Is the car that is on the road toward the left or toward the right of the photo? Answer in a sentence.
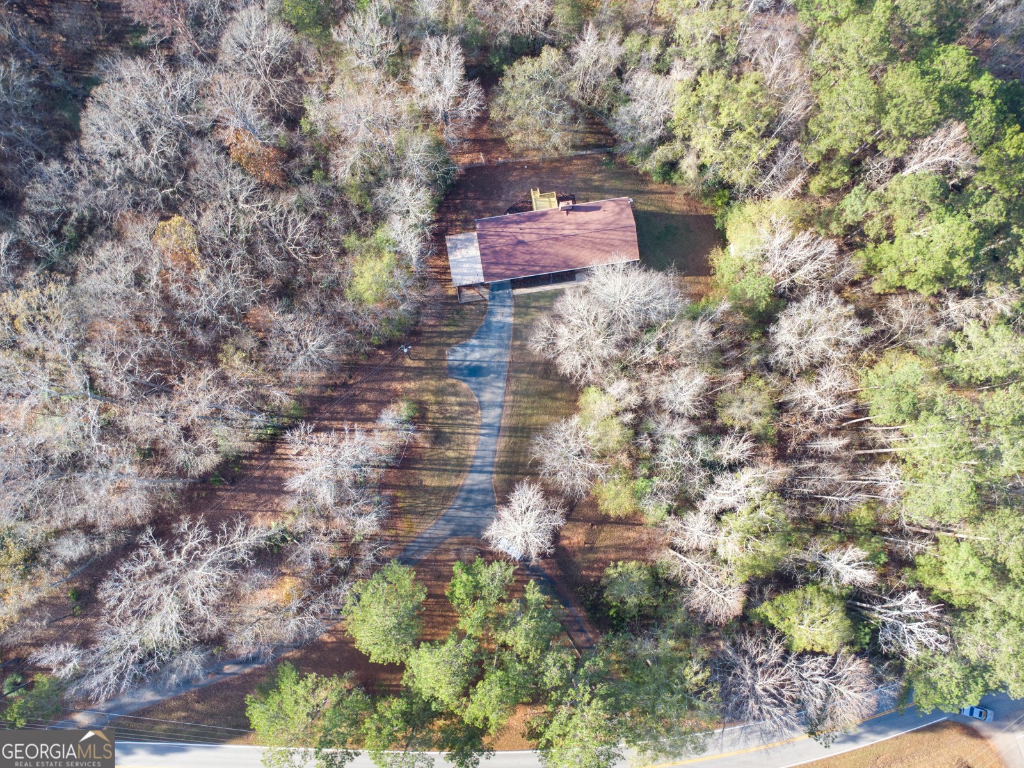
You can find the car that is on the road on the right side of the picture.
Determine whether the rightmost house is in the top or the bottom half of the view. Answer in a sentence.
The rightmost house is in the top half of the image.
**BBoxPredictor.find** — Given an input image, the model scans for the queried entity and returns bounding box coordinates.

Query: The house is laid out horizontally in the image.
[474,196,639,284]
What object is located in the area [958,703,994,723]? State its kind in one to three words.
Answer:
car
